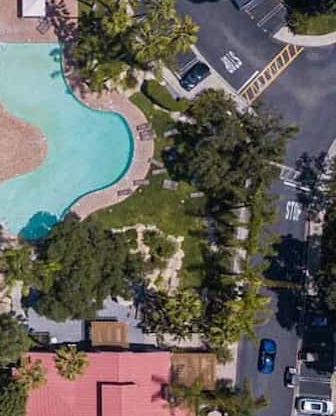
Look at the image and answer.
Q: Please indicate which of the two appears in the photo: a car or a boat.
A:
car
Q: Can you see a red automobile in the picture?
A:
No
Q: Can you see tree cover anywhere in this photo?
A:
Yes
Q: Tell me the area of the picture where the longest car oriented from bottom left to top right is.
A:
top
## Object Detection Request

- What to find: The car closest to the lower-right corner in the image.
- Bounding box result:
[295,396,333,415]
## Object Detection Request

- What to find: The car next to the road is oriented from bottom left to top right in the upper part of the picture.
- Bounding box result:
[177,60,211,90]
